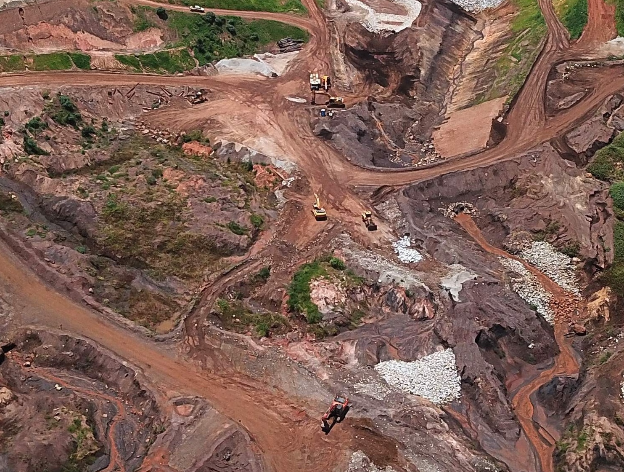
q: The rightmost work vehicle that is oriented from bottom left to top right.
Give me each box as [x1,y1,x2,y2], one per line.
[317,391,354,434]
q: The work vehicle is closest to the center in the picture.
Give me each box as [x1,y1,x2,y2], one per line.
[313,186,326,221]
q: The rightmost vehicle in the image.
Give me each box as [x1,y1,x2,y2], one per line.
[361,207,376,231]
